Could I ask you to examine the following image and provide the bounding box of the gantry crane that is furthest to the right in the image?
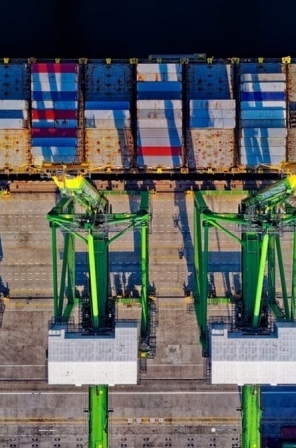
[175,161,296,448]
